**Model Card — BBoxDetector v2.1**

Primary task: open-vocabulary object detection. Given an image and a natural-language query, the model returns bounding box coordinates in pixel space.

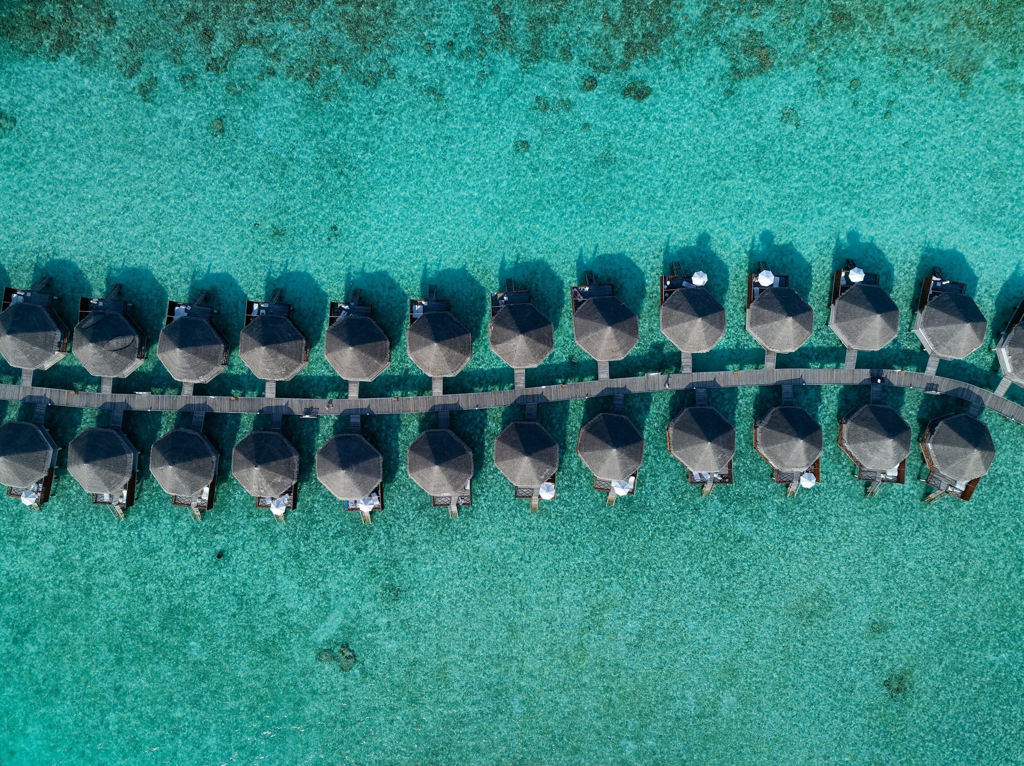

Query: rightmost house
[984,287,1024,375]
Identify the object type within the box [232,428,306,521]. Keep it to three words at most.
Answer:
house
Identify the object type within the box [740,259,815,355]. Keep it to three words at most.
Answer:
house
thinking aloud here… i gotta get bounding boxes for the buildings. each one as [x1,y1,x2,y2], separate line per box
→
[740,259,815,355]
[574,411,647,505]
[315,432,385,524]
[984,287,1024,375]
[746,404,823,497]
[911,410,999,506]
[148,426,227,521]
[0,418,69,514]
[492,420,561,512]
[238,285,315,383]
[656,260,727,355]
[323,286,397,383]
[157,287,239,385]
[0,273,73,372]
[405,283,475,379]
[406,428,476,520]
[903,263,988,362]
[661,405,736,498]
[71,282,157,379]
[67,425,148,519]
[829,402,912,495]
[232,428,306,521]
[486,275,556,371]
[571,269,640,364]
[821,256,901,352]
